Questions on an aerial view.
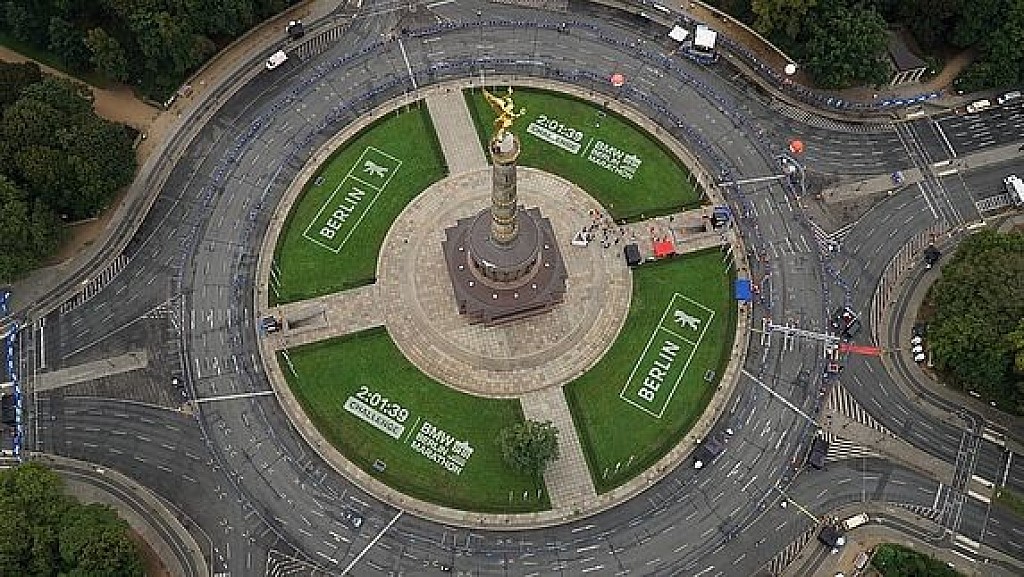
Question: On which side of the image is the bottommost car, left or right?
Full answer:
The bottommost car is on the right side of the image.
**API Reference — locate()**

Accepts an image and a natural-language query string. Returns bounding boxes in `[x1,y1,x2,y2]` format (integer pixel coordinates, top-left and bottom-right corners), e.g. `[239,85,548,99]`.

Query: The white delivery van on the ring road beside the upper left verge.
[265,50,289,71]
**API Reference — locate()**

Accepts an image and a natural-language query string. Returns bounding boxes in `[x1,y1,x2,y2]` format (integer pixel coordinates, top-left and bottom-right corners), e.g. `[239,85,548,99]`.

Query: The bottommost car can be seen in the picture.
[851,549,871,571]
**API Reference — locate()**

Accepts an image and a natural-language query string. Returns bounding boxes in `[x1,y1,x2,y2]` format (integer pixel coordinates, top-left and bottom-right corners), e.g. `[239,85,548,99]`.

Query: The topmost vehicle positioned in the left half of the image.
[286,24,306,39]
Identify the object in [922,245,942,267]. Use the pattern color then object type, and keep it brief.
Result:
black vehicle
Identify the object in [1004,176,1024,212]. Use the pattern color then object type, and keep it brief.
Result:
white vehicle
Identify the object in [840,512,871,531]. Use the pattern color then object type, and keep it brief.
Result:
white vehicle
